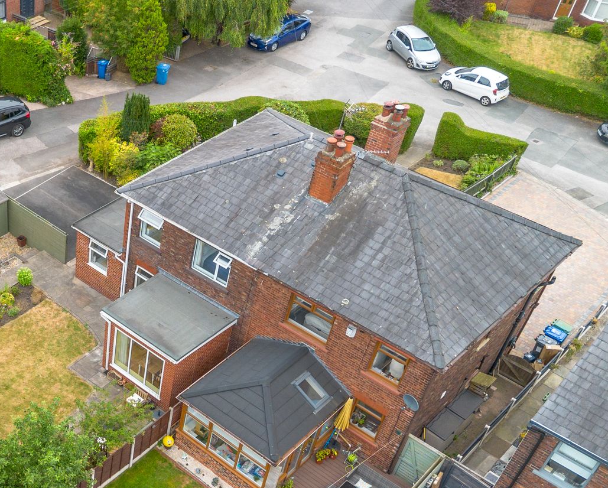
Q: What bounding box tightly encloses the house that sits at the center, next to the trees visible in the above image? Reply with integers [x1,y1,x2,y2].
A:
[67,99,585,488]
